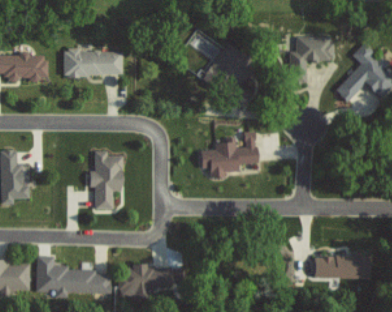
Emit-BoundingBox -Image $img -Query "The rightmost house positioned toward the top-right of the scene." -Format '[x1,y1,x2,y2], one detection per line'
[337,44,392,102]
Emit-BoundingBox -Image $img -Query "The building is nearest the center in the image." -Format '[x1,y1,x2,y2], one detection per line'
[202,132,259,180]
